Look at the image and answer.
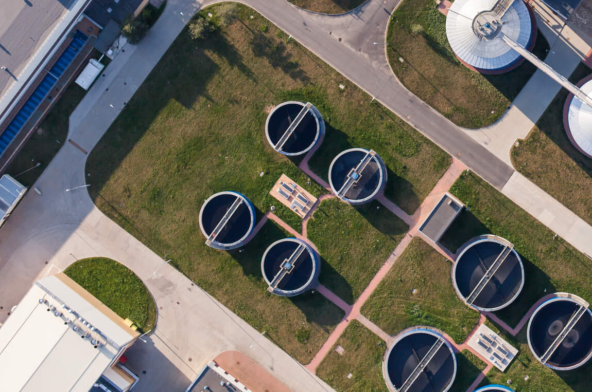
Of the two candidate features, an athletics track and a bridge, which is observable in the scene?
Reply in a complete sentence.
Visible in the photo is a bridge.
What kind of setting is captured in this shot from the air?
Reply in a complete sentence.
This looks like an industrial area.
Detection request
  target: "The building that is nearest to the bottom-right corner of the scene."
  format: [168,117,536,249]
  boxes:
[418,192,465,244]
